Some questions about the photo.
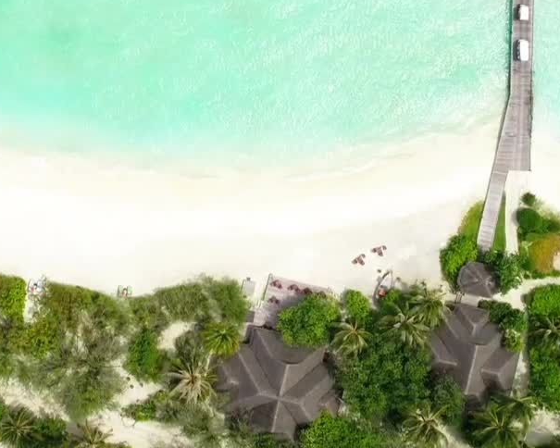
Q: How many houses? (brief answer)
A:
two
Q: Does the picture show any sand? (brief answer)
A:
Yes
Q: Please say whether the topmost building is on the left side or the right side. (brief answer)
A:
right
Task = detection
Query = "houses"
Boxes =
[215,325,341,440]
[429,303,521,405]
